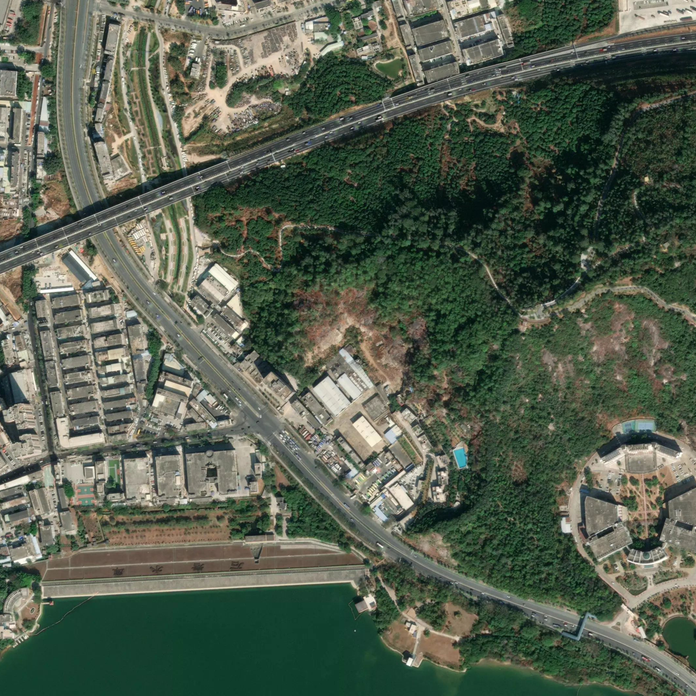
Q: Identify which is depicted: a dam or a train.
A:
dam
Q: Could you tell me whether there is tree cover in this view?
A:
Yes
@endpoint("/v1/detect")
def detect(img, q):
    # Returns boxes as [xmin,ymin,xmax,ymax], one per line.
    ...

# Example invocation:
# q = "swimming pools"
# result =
[453,447,468,469]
